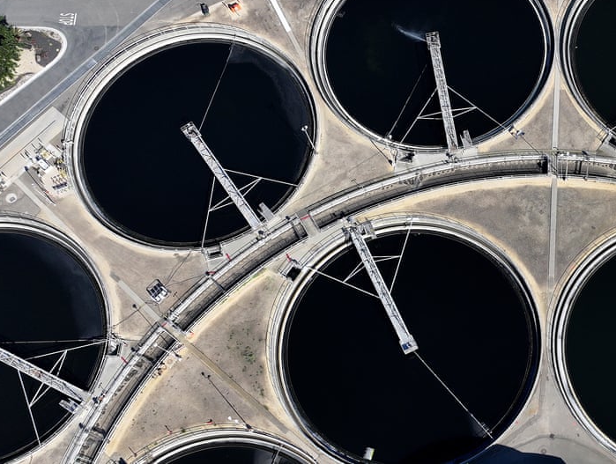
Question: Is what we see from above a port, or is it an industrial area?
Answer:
industrial area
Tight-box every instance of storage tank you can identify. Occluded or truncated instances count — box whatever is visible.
[59,20,320,253]
[557,0,616,140]
[305,0,557,155]
[264,211,546,464]
[128,427,323,464]
[547,229,616,464]
[0,210,115,464]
